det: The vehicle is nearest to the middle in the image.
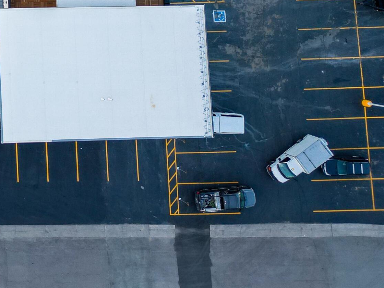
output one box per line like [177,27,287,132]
[213,111,248,134]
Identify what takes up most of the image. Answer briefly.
paved ground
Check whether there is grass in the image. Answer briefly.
No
